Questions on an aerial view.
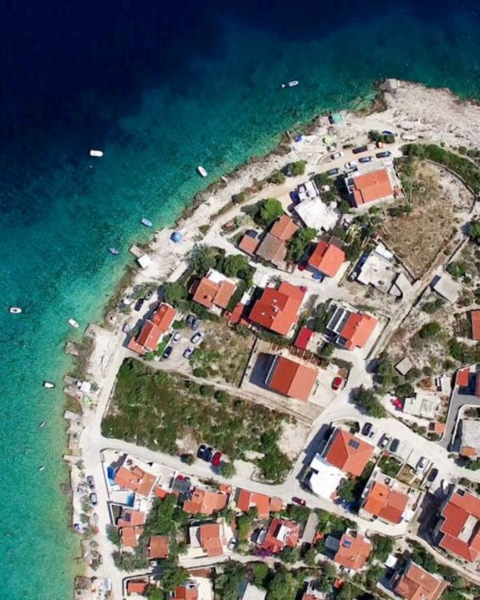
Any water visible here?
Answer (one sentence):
Yes, water shows up in the scene.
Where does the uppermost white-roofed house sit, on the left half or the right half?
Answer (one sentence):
It is on the right.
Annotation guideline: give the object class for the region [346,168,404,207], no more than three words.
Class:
house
